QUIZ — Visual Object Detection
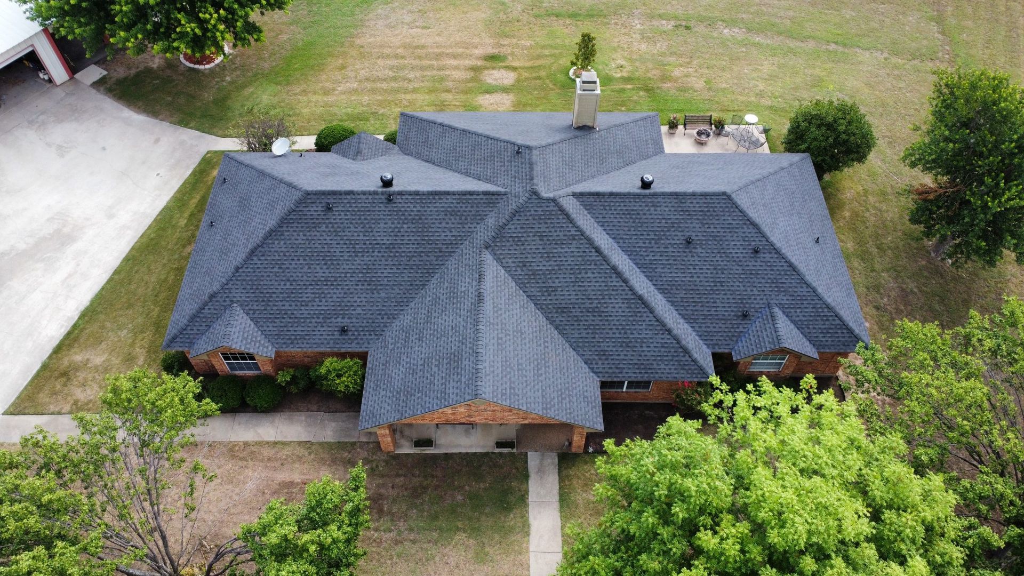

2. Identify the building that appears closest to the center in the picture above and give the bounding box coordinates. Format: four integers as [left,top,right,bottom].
[160,71,872,453]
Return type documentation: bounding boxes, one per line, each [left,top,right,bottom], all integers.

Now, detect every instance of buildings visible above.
[160,71,872,453]
[0,0,75,120]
